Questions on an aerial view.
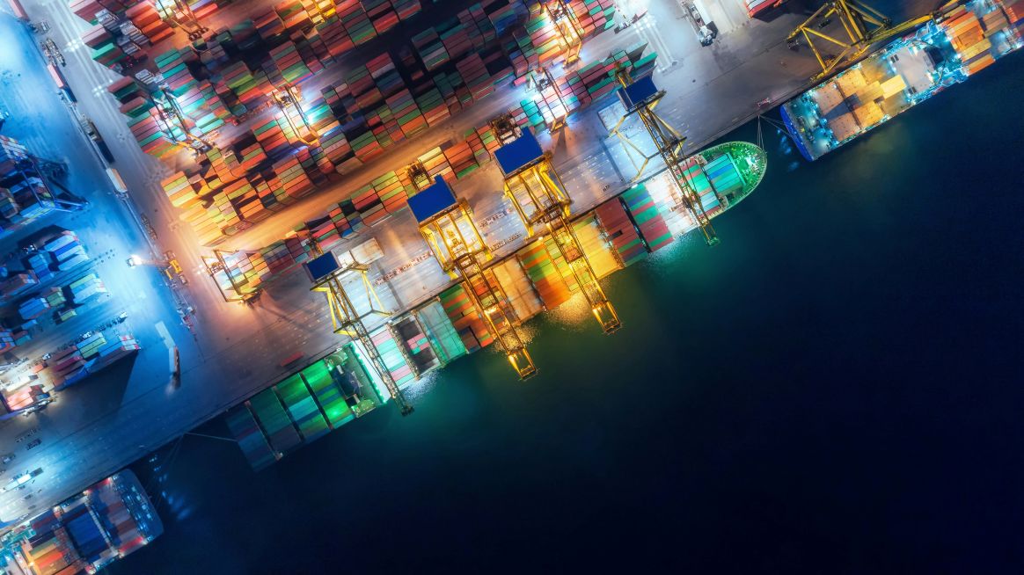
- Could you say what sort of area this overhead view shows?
port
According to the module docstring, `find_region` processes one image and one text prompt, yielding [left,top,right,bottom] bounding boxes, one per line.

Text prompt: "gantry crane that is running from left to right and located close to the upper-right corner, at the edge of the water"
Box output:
[781,0,949,86]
